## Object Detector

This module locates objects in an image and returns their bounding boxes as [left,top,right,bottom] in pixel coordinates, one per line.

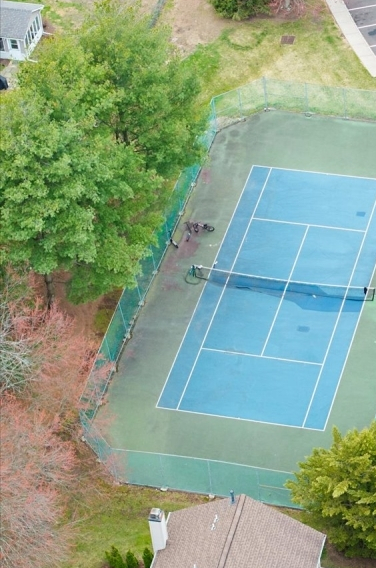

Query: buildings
[148,493,327,568]
[0,4,43,58]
